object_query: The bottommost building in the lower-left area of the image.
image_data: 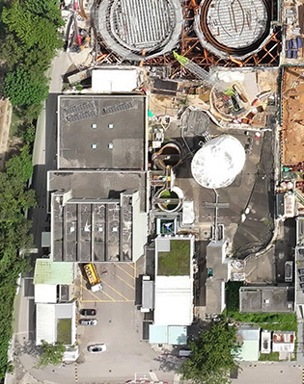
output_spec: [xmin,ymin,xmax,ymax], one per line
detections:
[35,297,82,358]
